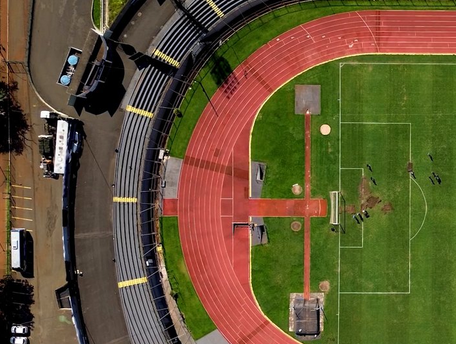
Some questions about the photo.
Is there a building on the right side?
No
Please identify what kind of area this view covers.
sports ground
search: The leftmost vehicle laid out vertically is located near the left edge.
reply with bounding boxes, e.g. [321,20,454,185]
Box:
[11,226,29,270]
